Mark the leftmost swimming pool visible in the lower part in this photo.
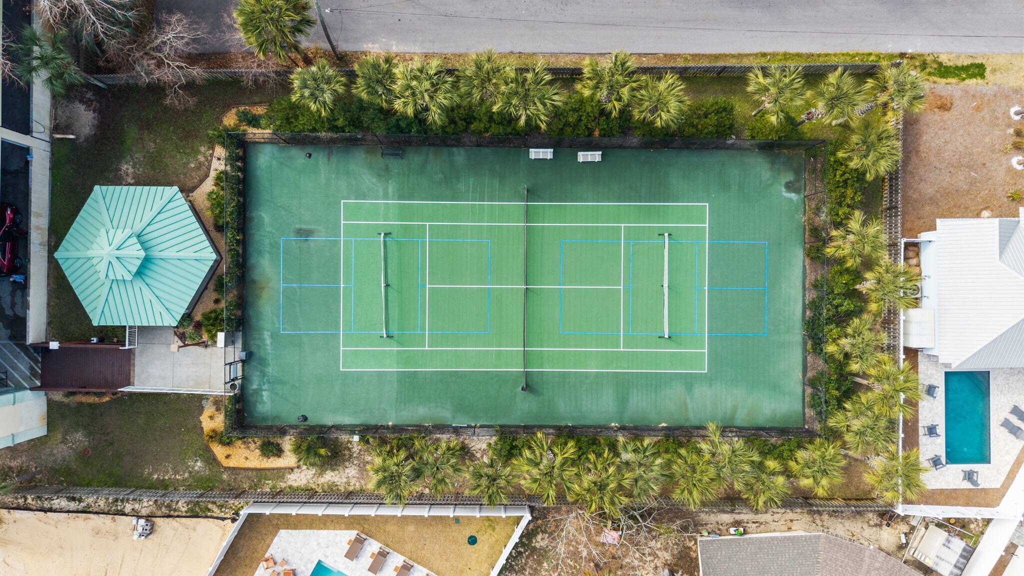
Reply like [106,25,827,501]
[307,555,357,576]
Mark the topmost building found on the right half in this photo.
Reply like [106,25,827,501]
[918,207,1024,370]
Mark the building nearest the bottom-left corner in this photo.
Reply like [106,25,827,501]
[0,390,50,446]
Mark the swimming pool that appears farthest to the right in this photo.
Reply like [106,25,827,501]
[943,367,993,469]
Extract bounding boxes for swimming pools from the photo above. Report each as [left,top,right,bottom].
[307,555,357,576]
[943,367,993,469]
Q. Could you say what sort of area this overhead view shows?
sports ground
